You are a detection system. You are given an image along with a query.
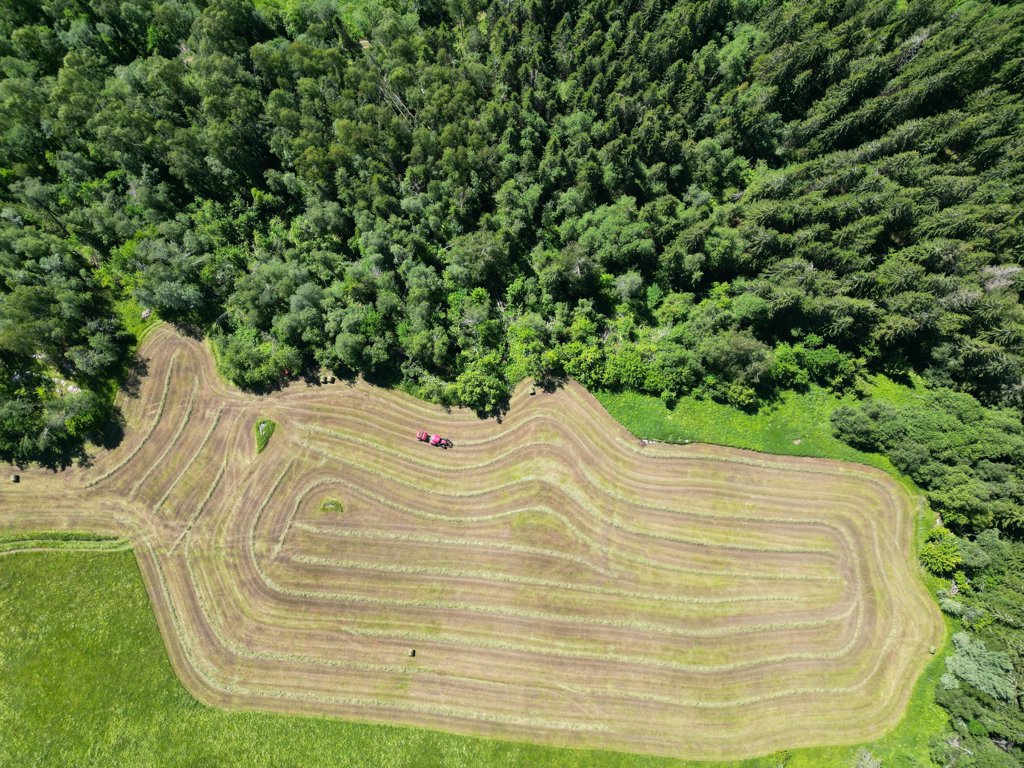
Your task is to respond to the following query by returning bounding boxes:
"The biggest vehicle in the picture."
[430,433,453,449]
